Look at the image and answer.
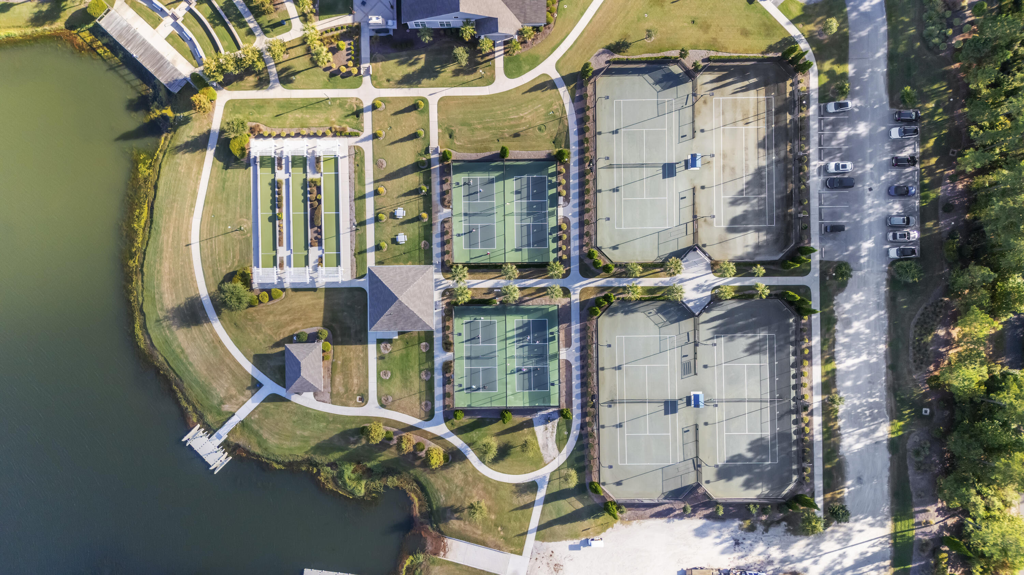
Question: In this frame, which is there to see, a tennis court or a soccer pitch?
tennis court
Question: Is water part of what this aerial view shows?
Yes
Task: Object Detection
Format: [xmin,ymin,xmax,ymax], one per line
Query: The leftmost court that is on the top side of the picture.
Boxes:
[452,160,505,263]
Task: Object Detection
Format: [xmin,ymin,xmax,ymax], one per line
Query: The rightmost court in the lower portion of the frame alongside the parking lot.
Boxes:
[697,300,797,498]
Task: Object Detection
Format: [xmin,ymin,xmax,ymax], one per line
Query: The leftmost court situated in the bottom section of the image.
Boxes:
[454,306,507,408]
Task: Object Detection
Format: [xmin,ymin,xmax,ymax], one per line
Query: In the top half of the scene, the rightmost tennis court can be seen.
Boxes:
[693,62,794,260]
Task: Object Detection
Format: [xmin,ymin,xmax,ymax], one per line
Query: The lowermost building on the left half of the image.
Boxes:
[285,342,326,393]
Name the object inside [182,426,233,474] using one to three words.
pier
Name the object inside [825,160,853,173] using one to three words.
vehicle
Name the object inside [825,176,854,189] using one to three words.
vehicle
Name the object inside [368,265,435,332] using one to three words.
building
